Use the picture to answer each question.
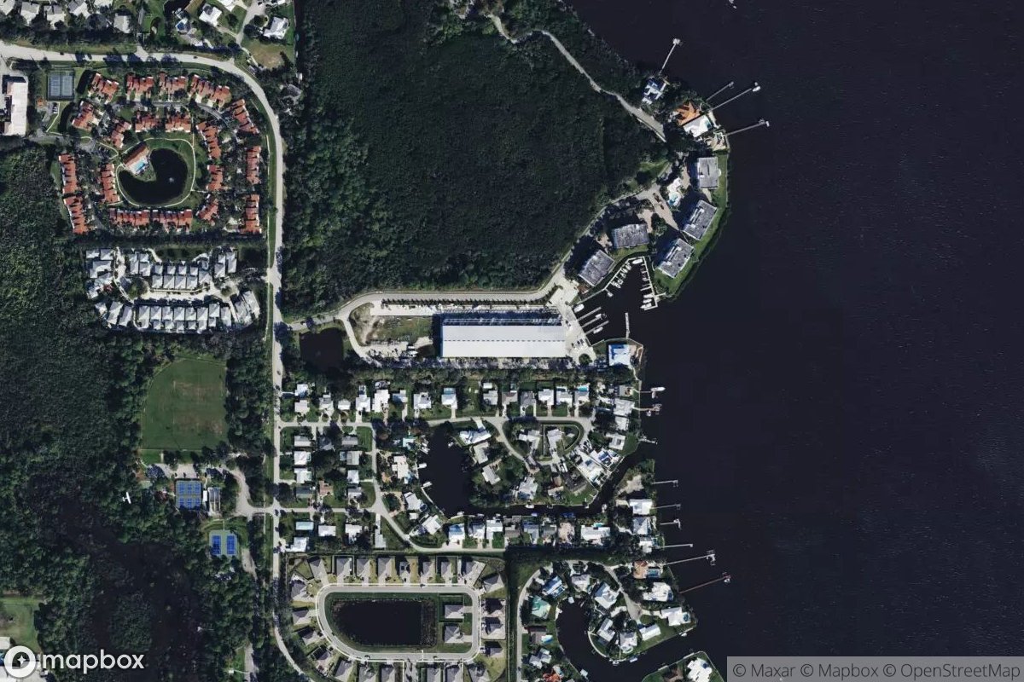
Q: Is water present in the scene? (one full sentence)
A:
Yes, water shows up in the scene.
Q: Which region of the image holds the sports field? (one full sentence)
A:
The sports field appears toward the left of the photo.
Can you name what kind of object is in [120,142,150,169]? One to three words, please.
building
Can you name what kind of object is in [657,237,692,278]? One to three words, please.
building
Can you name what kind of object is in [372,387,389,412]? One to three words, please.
house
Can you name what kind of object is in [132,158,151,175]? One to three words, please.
swimming pool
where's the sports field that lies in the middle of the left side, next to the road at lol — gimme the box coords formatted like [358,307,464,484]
[142,359,228,450]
